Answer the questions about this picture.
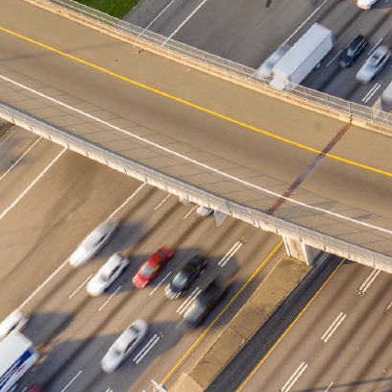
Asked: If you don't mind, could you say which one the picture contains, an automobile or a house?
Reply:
automobile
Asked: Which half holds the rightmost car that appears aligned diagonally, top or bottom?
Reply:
top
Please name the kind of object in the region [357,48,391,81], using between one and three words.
car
